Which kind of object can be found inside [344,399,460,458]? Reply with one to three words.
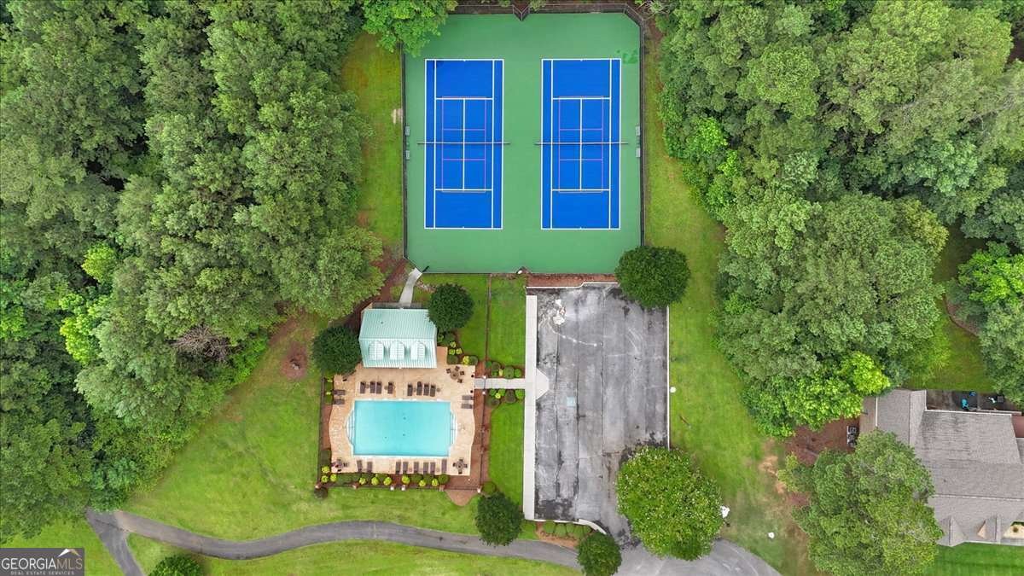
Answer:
swimming pool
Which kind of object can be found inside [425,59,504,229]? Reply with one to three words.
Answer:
tennis court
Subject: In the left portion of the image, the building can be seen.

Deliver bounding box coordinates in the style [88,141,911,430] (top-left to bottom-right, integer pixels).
[356,308,439,368]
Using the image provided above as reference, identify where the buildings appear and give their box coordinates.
[863,388,1024,553]
[356,308,439,368]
